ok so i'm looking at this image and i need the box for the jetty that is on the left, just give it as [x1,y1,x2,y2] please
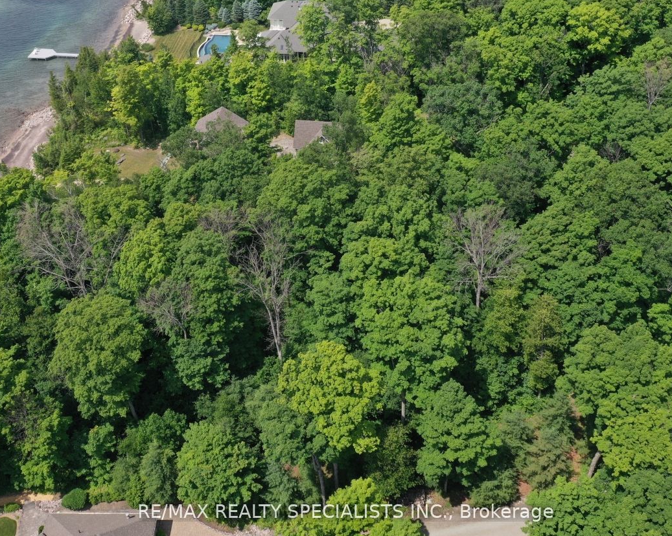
[27,49,81,62]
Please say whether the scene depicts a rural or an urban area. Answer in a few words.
rural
